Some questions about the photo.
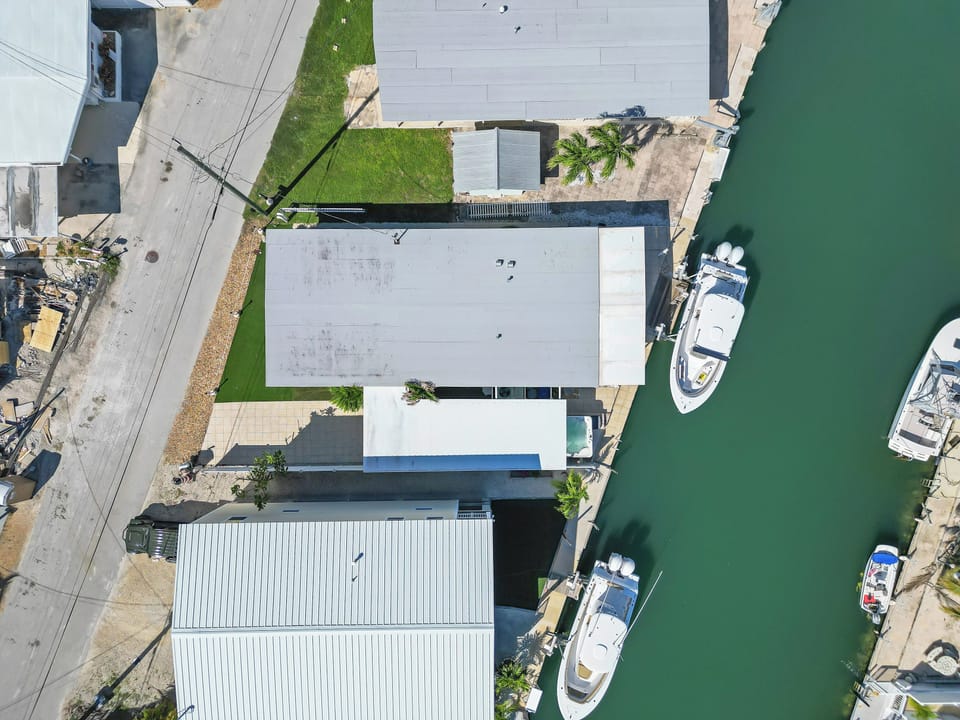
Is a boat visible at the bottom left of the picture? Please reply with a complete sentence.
No, the scene shows no boat at the bottom left of the picture.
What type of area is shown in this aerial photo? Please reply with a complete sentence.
The picture captures a residential area.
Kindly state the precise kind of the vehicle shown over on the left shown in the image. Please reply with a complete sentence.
From above, the vehicle shown over on the left can be identified as an automobile.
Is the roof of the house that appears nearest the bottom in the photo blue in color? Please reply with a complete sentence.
No, the roof of the house that appears nearest the bottom is white.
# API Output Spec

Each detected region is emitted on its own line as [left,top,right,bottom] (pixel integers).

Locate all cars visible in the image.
[125,513,213,565]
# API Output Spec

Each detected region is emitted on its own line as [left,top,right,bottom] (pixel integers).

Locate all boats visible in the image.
[857,541,899,622]
[668,234,748,413]
[560,542,662,720]
[885,311,960,468]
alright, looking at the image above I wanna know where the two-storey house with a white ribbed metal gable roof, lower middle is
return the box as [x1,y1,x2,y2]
[171,503,500,720]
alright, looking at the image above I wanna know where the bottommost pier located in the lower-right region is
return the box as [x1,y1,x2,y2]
[843,672,907,720]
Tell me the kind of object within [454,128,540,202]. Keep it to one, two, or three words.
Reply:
shed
